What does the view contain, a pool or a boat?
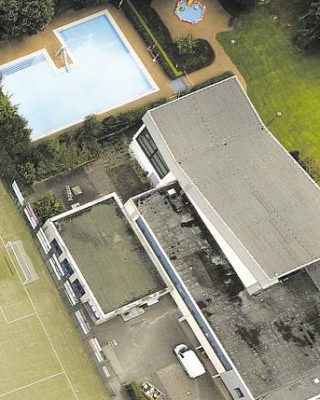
pool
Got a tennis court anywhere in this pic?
No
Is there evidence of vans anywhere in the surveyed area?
Yes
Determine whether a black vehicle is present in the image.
No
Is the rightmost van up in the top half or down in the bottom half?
bottom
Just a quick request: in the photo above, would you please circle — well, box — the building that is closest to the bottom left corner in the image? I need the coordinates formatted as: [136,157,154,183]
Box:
[43,195,171,327]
